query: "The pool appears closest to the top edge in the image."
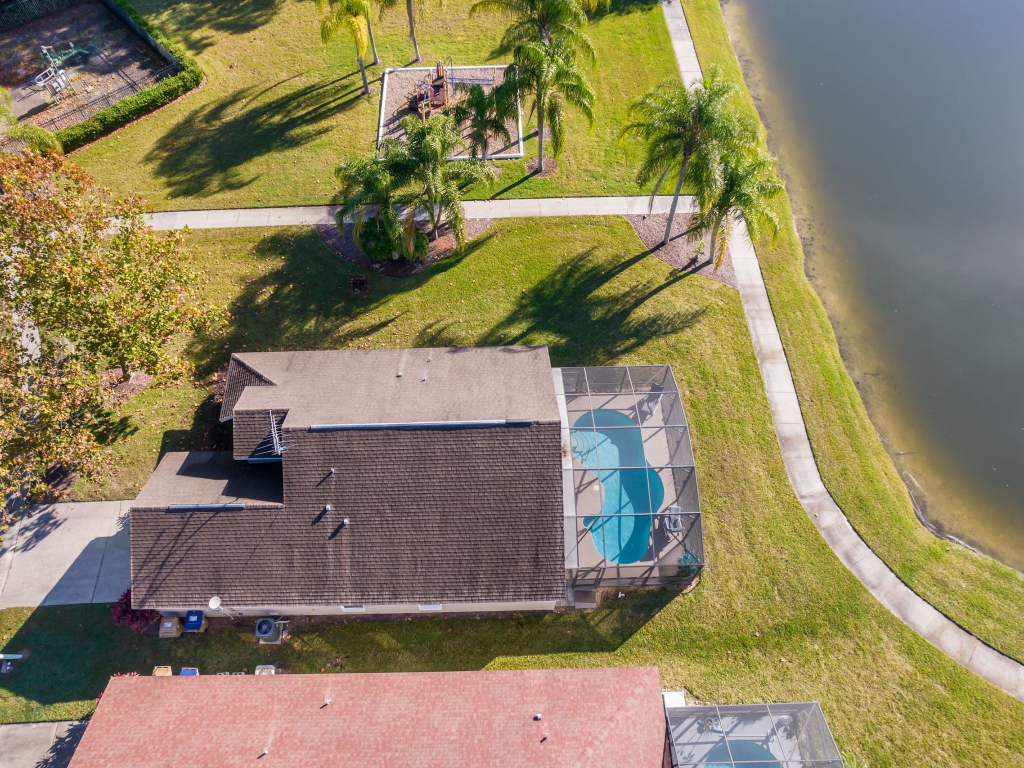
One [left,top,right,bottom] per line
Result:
[571,408,665,565]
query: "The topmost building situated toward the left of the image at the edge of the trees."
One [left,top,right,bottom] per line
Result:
[131,346,565,617]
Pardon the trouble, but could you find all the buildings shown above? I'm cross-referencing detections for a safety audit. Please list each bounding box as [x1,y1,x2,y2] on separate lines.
[58,666,679,768]
[131,346,565,617]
